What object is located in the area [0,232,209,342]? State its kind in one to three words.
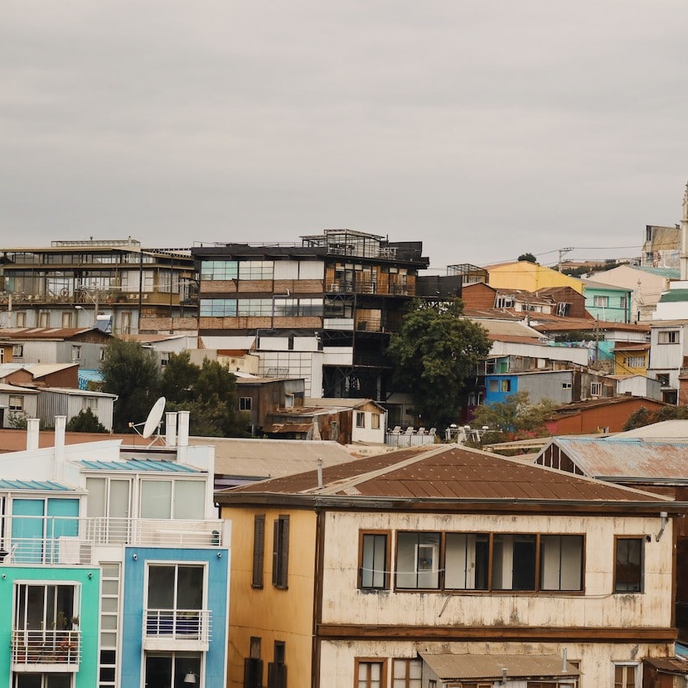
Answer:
building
